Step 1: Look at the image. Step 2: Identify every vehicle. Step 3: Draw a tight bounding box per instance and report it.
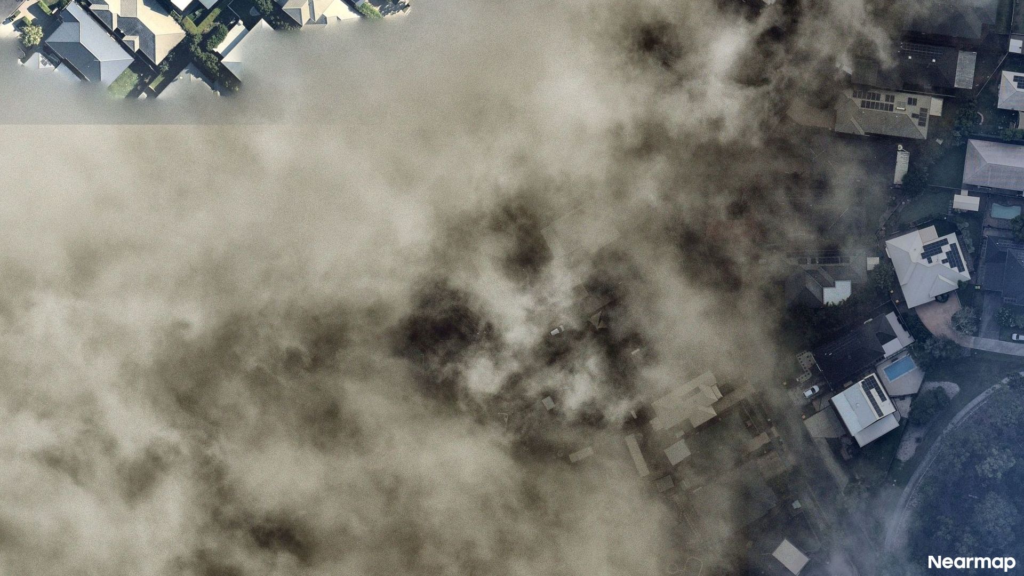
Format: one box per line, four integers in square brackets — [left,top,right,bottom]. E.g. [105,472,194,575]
[1011,333,1024,341]
[802,385,819,398]
[548,324,565,336]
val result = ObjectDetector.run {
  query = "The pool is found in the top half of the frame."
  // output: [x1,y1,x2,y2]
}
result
[990,202,1022,220]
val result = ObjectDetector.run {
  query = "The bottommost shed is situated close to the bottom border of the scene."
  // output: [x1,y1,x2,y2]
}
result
[772,539,808,576]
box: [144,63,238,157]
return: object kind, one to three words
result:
house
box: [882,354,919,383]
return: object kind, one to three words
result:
swimming pool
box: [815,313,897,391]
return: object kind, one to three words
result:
house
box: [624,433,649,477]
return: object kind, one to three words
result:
shed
